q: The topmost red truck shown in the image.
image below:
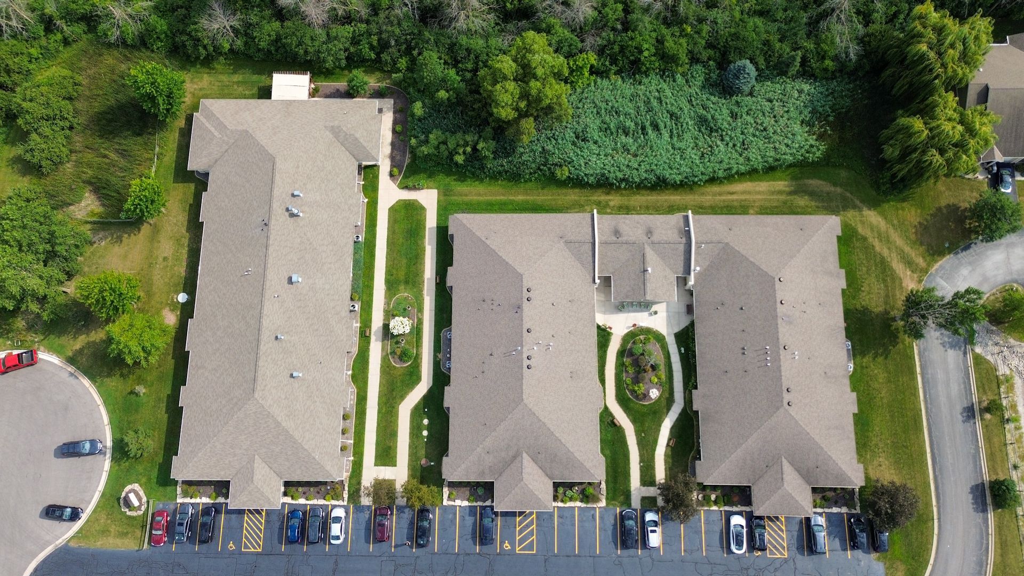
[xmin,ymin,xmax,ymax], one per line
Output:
[0,349,42,374]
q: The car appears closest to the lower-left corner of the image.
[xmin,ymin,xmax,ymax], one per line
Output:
[44,503,86,523]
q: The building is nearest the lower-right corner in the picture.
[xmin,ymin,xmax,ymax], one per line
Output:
[691,215,865,517]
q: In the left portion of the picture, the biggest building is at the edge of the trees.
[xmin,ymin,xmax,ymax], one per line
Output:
[171,99,382,509]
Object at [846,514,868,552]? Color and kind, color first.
black car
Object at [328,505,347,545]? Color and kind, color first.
white car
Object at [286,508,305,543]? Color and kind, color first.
blue car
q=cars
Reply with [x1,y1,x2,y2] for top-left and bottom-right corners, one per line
[728,513,748,554]
[846,514,868,552]
[44,503,86,523]
[148,509,171,547]
[373,505,392,543]
[749,515,769,552]
[415,511,433,548]
[174,503,195,544]
[994,164,1016,195]
[869,515,891,556]
[306,506,326,544]
[620,508,639,549]
[60,439,104,457]
[286,508,305,543]
[328,505,347,545]
[643,509,662,549]
[479,505,497,545]
[807,513,827,554]
[197,505,218,544]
